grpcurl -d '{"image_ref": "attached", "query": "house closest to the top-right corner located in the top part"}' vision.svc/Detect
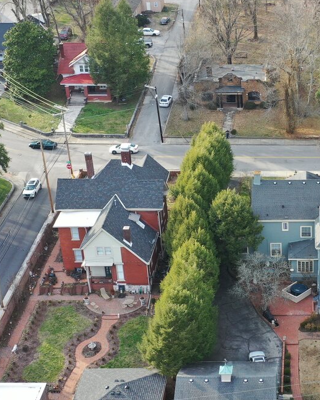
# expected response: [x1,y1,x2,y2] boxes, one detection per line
[195,64,268,110]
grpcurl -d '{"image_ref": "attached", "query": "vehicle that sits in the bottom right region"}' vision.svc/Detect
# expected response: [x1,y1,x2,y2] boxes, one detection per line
[249,345,266,362]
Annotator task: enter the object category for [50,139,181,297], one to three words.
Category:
house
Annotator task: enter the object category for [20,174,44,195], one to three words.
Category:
car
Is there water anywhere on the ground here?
No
